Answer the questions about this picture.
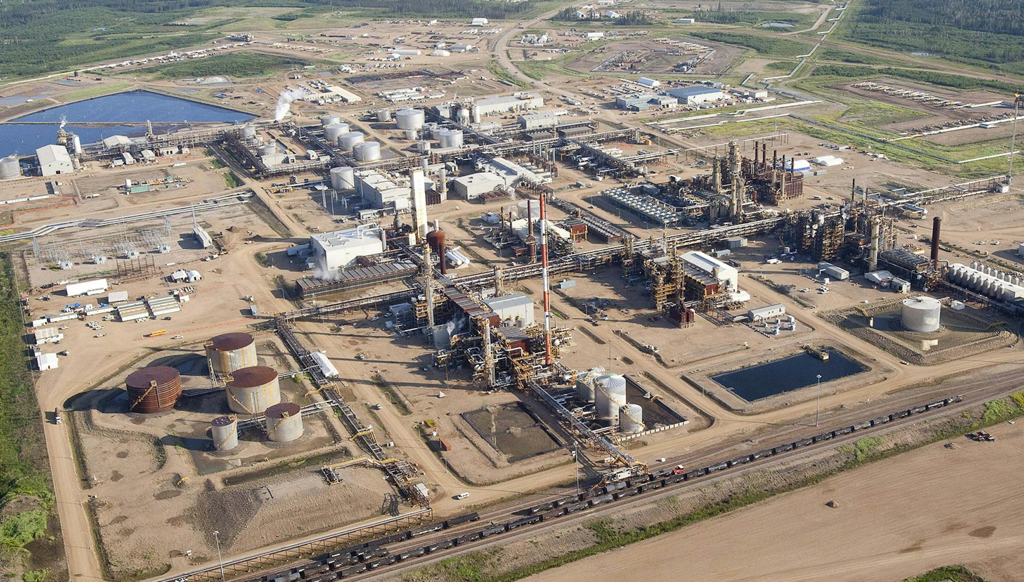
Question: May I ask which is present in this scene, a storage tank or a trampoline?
storage tank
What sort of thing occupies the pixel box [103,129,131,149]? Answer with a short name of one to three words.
shed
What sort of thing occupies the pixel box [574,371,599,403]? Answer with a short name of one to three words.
silo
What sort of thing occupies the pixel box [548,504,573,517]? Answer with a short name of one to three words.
rail car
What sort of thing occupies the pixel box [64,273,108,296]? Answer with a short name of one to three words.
building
